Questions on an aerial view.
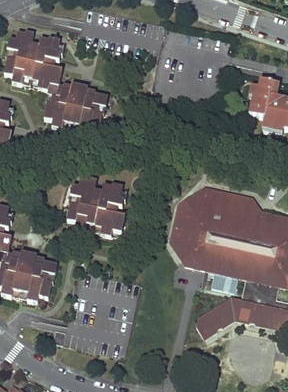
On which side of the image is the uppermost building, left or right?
left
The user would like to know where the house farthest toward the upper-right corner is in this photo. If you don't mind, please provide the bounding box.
[248,76,288,136]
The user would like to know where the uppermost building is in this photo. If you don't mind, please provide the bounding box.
[2,30,64,99]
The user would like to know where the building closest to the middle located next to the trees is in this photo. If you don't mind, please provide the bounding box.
[65,178,127,238]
